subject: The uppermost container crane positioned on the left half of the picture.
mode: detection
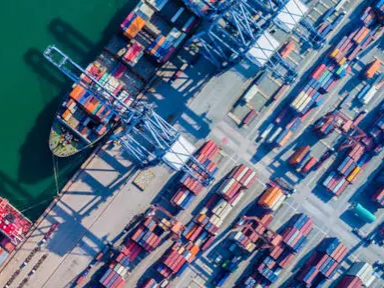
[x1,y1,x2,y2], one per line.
[41,40,217,185]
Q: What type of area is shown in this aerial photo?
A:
port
